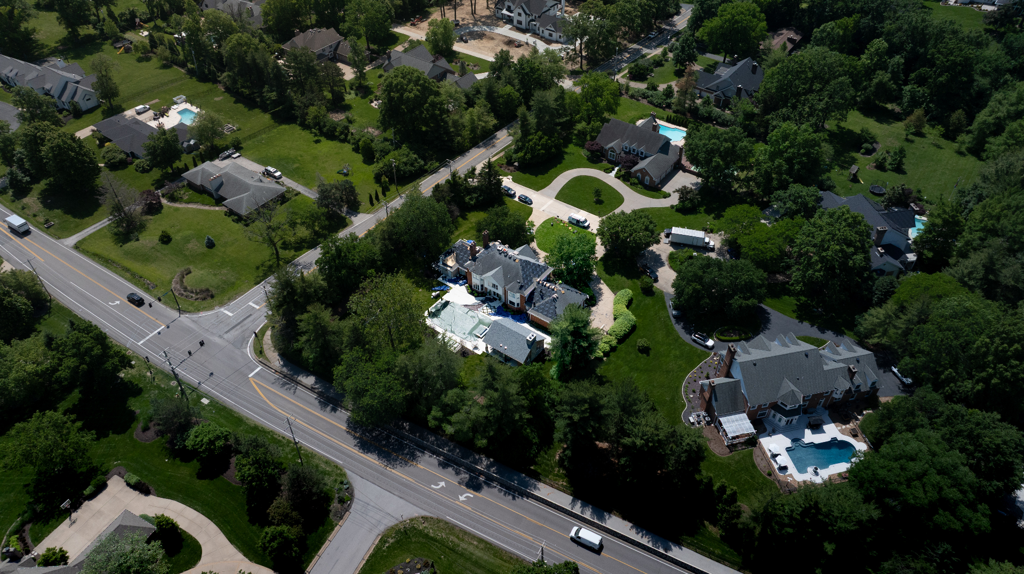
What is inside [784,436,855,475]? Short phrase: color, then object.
blue swimming pool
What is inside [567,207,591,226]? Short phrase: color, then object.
white vehicle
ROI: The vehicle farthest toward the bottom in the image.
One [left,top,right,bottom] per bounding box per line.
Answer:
[567,525,605,550]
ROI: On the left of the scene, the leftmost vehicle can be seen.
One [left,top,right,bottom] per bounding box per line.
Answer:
[3,212,28,231]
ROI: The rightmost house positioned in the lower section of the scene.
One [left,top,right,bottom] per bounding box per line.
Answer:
[696,332,881,437]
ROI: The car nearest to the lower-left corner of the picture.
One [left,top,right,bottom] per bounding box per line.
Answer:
[125,290,145,304]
